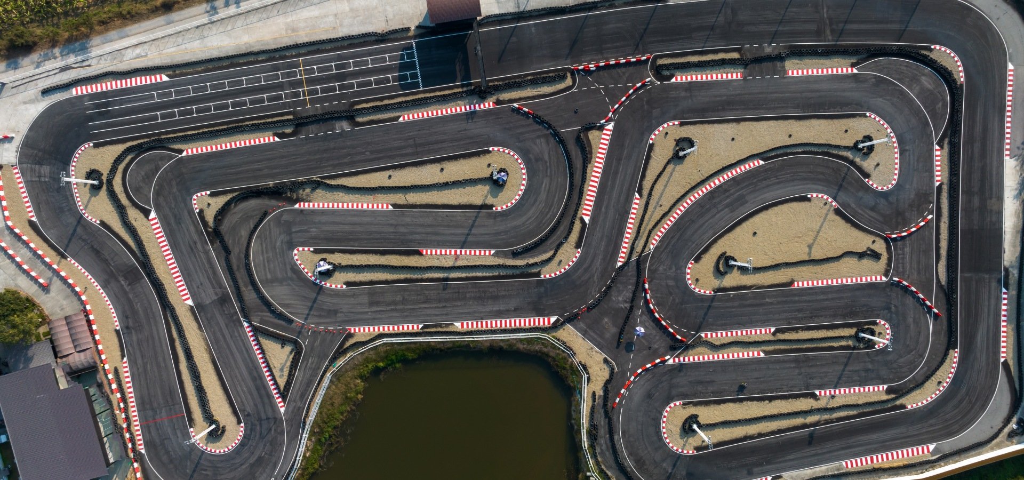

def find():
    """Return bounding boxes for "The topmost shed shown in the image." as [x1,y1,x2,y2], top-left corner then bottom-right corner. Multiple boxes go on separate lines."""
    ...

[429,0,482,30]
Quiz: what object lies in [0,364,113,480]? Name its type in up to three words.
building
